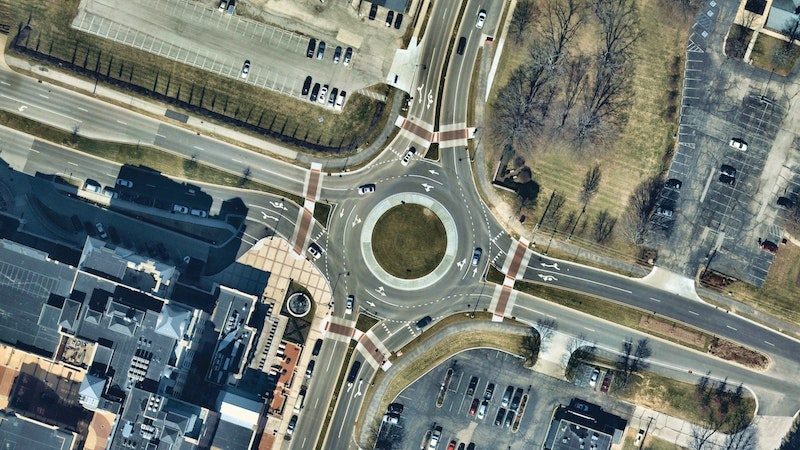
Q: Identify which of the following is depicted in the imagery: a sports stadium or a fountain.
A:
fountain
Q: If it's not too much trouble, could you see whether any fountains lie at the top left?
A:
No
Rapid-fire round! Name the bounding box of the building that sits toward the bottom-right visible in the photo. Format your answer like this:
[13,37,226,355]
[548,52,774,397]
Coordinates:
[544,409,623,450]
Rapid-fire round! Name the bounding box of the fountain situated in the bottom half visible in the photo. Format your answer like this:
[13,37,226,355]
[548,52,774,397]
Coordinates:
[287,292,312,317]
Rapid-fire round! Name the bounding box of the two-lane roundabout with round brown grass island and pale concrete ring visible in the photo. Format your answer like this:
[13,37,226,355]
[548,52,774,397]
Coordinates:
[287,114,531,373]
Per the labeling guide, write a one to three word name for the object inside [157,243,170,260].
vehicle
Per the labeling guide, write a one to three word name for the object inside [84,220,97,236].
vehicle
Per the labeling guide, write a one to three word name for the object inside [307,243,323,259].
car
